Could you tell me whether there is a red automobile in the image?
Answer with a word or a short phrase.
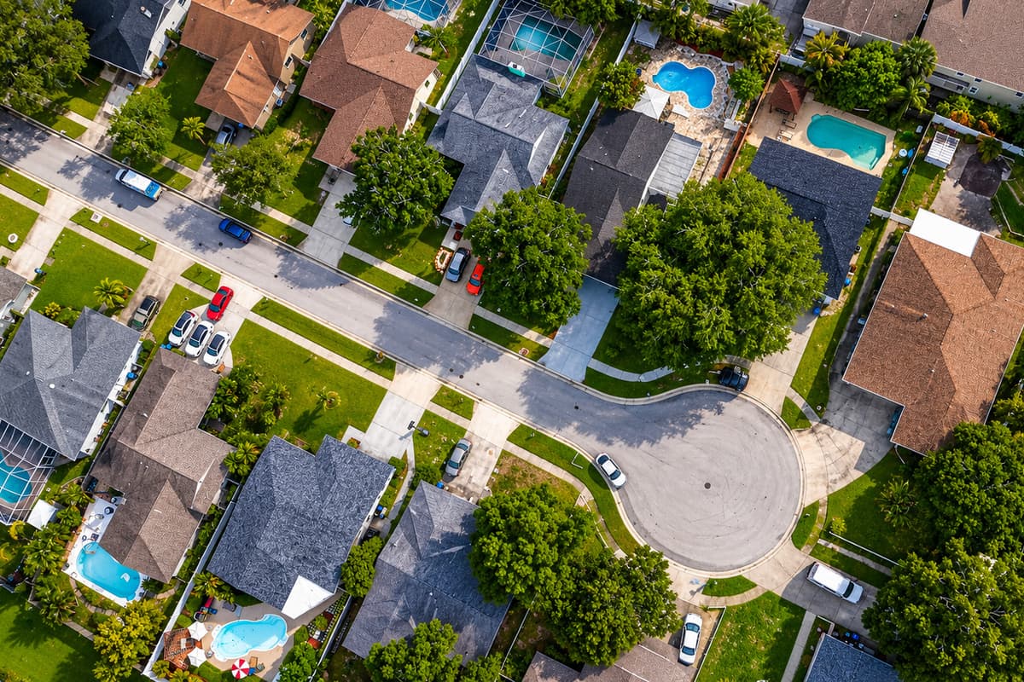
Yes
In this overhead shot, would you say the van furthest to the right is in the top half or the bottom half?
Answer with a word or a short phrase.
bottom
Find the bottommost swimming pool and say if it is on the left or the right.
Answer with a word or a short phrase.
left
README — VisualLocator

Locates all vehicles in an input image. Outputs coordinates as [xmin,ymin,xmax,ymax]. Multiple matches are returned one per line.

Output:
[445,244,475,286]
[712,363,754,394]
[217,120,241,153]
[185,318,217,357]
[115,169,167,205]
[677,612,702,665]
[205,329,234,367]
[208,285,236,322]
[593,451,629,491]
[170,309,201,347]
[220,218,256,246]
[803,559,864,605]
[133,294,162,332]
[445,436,473,478]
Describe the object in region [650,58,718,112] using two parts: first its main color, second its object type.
blue swimming pool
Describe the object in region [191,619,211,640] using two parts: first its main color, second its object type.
white umbrella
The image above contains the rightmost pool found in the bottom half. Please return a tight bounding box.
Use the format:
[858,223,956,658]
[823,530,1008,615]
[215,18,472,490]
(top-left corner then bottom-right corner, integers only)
[210,611,289,662]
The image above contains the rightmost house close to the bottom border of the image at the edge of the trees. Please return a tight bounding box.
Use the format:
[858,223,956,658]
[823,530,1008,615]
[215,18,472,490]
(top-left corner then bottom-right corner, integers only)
[802,633,910,682]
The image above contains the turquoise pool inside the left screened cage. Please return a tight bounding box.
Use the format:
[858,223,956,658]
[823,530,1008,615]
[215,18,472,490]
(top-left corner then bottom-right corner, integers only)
[0,450,33,506]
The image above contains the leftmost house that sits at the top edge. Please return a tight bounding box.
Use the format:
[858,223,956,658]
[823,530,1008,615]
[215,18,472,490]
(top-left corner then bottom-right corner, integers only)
[63,0,182,81]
